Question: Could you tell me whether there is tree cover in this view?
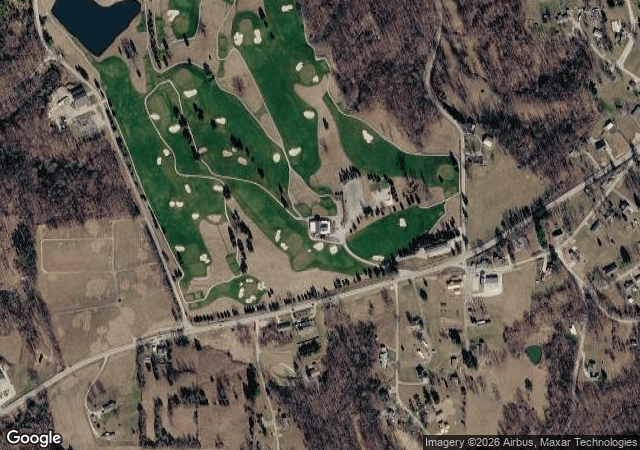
Yes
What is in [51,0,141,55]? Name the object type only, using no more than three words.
pond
